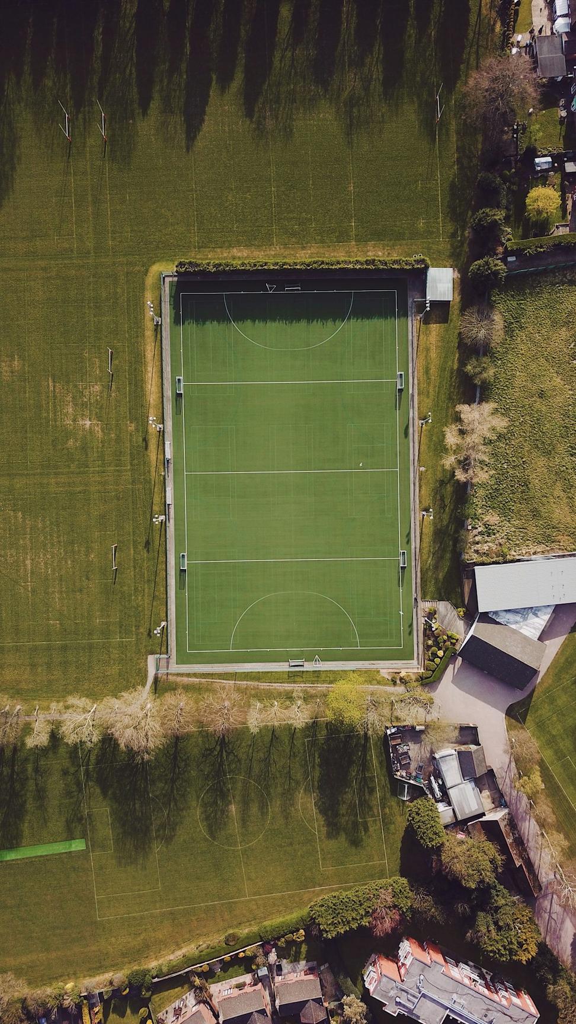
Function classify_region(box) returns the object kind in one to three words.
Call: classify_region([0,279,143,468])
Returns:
sports field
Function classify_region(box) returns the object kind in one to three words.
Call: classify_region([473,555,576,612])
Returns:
building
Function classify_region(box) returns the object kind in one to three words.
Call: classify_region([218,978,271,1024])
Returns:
house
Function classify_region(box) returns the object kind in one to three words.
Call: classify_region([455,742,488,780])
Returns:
shed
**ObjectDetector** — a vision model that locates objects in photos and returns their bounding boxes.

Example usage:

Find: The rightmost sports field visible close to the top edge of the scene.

[90,0,460,256]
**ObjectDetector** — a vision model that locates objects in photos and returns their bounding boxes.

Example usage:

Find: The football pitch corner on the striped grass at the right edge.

[517,677,576,813]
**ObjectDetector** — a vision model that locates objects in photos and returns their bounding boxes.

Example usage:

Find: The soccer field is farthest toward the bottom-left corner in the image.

[76,714,390,922]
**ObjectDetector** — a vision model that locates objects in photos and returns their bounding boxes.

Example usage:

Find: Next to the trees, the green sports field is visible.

[163,272,427,674]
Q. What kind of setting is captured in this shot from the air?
sports ground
